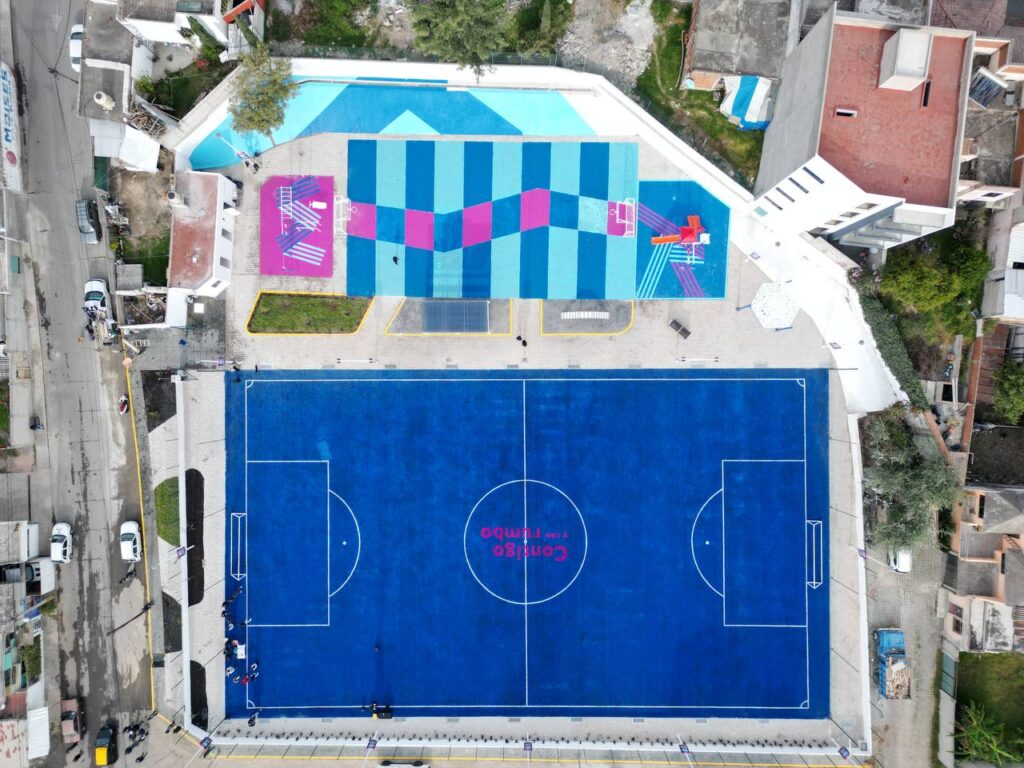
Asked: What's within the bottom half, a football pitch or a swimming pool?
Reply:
football pitch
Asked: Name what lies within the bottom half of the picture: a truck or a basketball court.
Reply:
truck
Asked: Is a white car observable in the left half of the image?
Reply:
Yes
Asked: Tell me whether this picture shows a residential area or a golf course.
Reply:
residential area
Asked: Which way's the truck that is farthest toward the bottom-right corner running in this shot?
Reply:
up and down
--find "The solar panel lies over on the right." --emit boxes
[970,65,1018,107]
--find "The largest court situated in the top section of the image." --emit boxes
[346,140,639,299]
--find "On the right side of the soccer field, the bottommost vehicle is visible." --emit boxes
[875,625,911,705]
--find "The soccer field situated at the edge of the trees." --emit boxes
[226,370,830,719]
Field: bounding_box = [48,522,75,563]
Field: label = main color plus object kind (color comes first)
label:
white car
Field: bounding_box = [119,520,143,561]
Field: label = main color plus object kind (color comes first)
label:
white car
